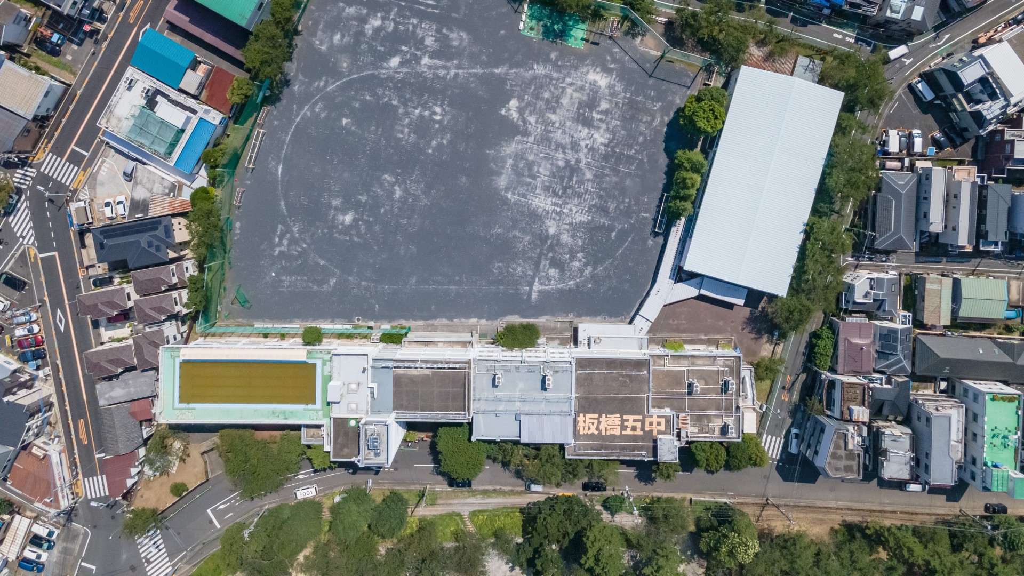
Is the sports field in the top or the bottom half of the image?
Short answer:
top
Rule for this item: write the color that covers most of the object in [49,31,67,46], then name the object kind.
blue vehicle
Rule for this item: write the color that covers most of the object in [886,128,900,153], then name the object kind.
white vehicle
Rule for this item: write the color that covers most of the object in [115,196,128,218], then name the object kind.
white vehicle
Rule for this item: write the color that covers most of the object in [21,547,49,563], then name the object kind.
white car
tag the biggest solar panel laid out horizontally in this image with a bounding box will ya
[100,220,171,251]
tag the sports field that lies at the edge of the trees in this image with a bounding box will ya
[221,0,716,321]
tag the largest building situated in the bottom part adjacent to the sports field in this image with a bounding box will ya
[160,320,757,467]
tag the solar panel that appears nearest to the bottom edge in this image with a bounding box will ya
[878,330,911,361]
